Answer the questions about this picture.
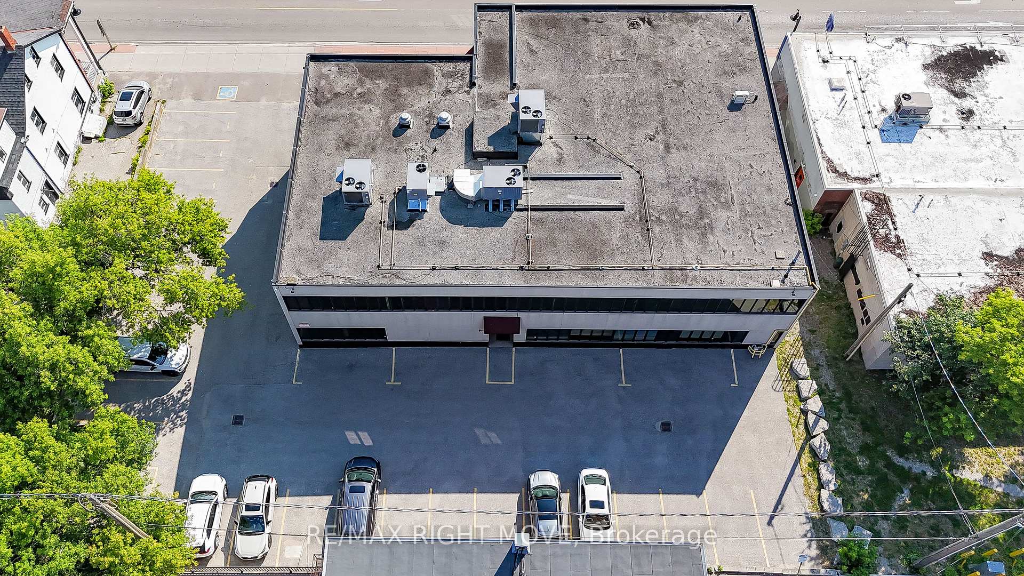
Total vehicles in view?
7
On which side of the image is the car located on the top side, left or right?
left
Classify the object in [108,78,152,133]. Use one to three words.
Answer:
car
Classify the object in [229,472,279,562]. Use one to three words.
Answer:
car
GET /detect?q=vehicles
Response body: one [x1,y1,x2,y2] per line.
[105,336,193,370]
[525,468,566,537]
[229,472,279,562]
[108,78,152,133]
[576,468,618,537]
[181,473,227,559]
[338,455,382,538]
